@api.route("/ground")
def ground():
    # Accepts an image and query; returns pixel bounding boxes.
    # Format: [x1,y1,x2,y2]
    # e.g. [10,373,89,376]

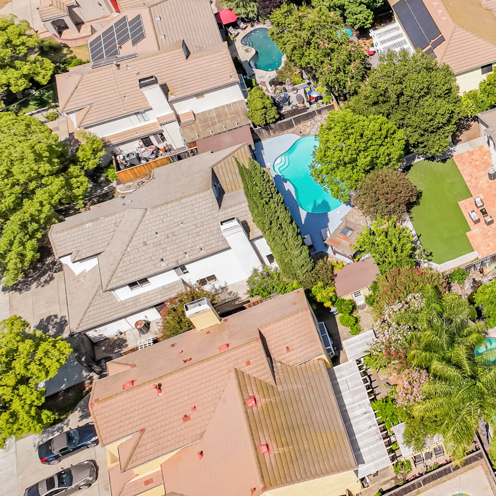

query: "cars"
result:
[35,422,101,464]
[22,459,96,496]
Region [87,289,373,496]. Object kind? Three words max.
house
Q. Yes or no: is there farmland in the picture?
No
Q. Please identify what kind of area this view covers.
residential area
